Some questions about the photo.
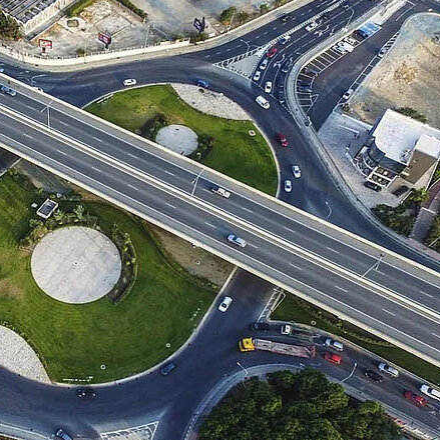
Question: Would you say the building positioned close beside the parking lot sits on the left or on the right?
right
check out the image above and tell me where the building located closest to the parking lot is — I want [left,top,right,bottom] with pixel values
[360,108,440,186]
